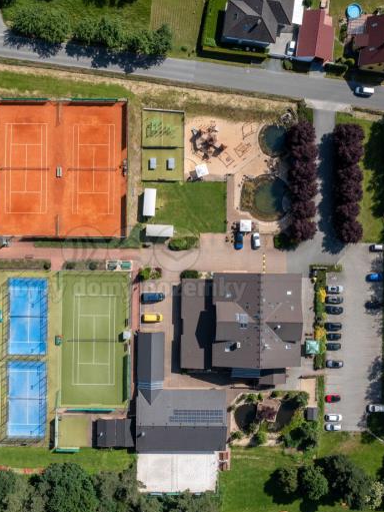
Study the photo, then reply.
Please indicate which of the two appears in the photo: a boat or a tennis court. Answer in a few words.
tennis court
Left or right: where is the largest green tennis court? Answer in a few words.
left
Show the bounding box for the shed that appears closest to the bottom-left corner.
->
[96,416,134,448]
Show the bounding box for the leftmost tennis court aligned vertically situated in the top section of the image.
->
[0,101,59,236]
